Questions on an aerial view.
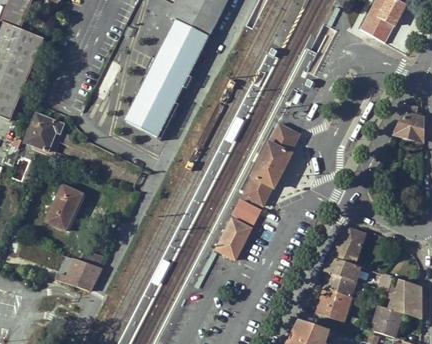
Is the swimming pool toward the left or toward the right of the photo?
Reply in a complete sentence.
You can find the swimming pool on the left side of the picture.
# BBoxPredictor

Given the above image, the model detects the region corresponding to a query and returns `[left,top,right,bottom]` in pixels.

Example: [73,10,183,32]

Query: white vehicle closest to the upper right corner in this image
[360,99,374,120]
